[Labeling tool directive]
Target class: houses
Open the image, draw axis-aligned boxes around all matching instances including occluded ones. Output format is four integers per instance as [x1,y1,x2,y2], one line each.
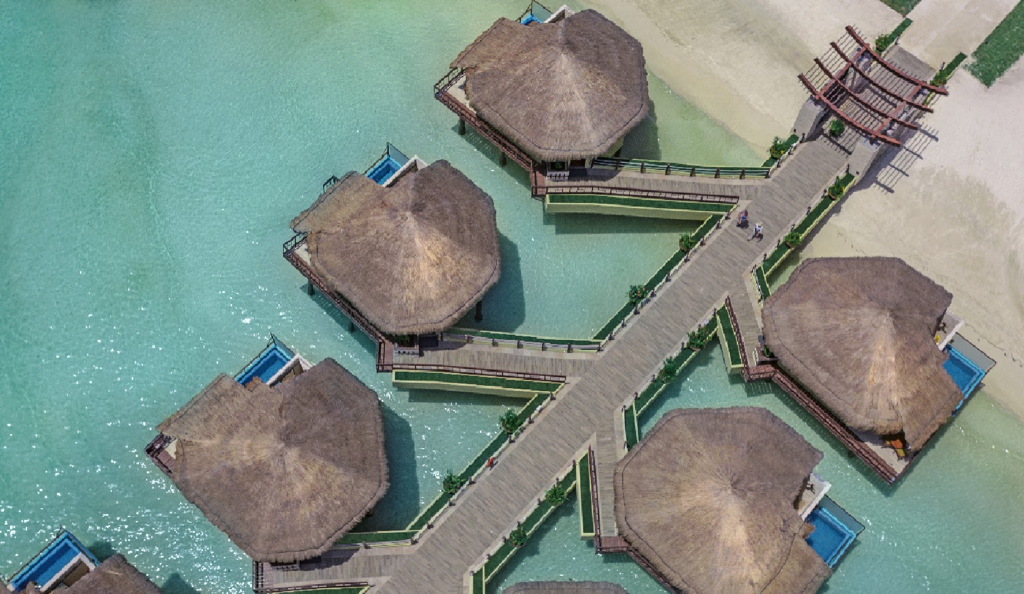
[0,527,161,594]
[275,144,502,372]
[143,337,389,594]
[433,0,646,198]
[744,253,997,493]
[600,407,865,594]
[495,578,627,594]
